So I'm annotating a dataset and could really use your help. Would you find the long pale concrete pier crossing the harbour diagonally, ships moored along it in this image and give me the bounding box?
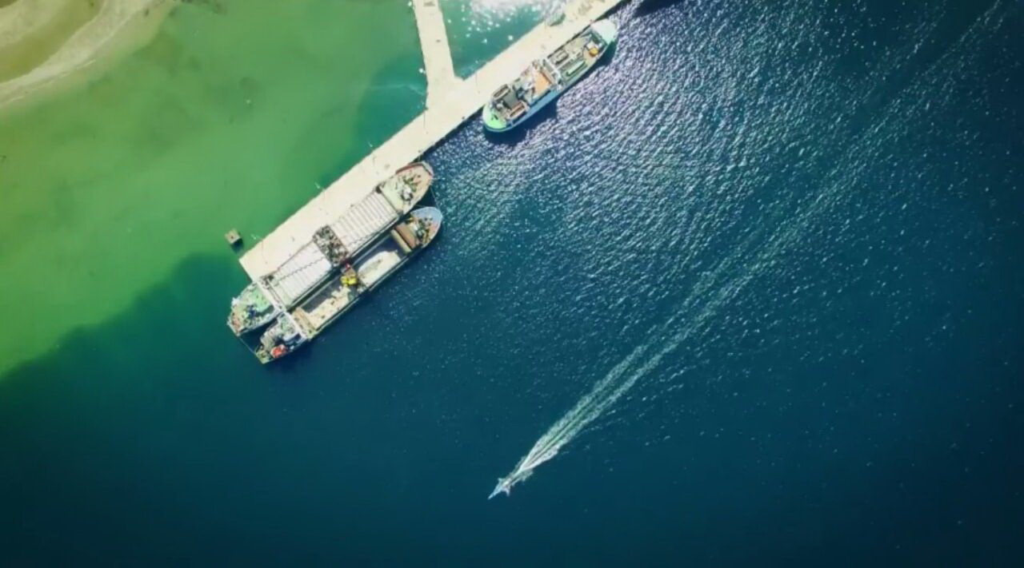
[240,0,620,281]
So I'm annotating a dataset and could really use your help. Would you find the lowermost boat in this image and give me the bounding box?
[487,479,512,501]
